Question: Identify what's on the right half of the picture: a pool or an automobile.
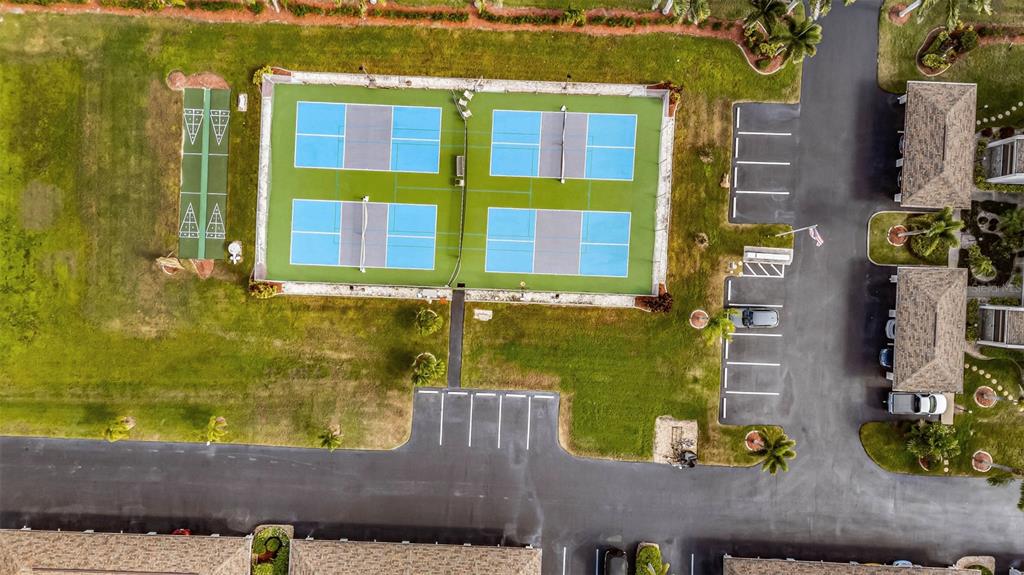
automobile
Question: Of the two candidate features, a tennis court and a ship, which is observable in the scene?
tennis court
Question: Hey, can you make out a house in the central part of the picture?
No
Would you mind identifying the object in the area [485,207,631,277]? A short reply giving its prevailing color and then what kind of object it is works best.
blue sports court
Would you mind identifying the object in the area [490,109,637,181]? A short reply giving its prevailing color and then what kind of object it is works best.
blue sports court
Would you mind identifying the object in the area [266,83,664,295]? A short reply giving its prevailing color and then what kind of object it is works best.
green tennis court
